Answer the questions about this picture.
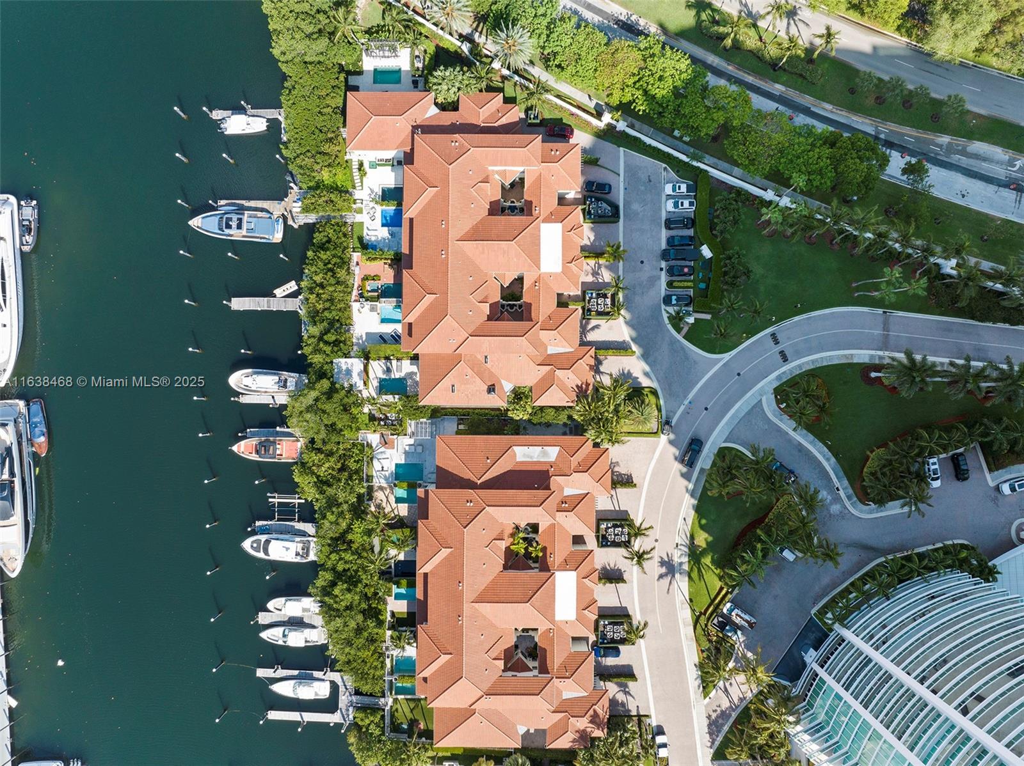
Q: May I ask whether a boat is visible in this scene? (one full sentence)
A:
Yes, a boat appears in the view.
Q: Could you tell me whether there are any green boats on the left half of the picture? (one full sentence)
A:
No, no green boat is visible on the left half of the picture.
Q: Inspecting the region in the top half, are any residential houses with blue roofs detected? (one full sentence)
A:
No, no residential house with a blue roof appears in the top half.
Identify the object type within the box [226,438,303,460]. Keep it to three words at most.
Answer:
boat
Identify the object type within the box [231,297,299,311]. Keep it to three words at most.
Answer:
pier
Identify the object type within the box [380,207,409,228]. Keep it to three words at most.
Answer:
swimming pool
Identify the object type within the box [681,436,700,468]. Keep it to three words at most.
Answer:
car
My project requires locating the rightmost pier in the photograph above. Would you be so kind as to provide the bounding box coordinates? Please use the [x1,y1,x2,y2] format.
[353,692,386,708]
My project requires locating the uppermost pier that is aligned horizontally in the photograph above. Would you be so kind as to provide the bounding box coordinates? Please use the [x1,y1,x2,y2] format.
[211,109,283,136]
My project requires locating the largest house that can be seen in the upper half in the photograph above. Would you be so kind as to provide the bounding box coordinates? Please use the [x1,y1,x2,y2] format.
[402,134,584,354]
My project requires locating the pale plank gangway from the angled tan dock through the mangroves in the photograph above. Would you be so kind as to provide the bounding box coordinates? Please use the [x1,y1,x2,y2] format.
[293,198,356,225]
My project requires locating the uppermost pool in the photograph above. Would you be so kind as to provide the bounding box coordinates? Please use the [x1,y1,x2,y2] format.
[371,66,403,85]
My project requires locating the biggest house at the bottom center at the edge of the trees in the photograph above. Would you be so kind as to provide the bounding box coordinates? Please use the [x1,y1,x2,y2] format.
[417,483,598,712]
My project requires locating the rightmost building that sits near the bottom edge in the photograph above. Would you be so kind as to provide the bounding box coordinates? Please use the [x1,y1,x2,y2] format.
[782,574,1024,766]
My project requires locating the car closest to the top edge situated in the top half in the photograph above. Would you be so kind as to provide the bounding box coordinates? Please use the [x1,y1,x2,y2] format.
[546,125,574,140]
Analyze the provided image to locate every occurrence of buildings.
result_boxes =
[417,483,598,712]
[402,134,584,354]
[782,574,1024,766]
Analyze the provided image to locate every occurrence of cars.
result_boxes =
[666,234,693,248]
[664,216,693,230]
[654,734,668,766]
[996,478,1024,495]
[593,645,619,659]
[546,125,574,140]
[666,264,693,278]
[922,456,941,487]
[660,247,698,262]
[666,197,695,212]
[721,601,757,631]
[663,293,691,306]
[681,436,700,468]
[664,181,696,196]
[949,452,969,480]
[707,616,739,643]
[584,179,612,194]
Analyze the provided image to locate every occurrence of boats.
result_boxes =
[226,438,303,460]
[0,192,26,380]
[29,398,50,456]
[217,110,271,133]
[266,597,329,616]
[21,195,40,252]
[258,626,328,646]
[227,368,308,395]
[240,535,323,562]
[272,283,299,298]
[268,679,332,699]
[186,207,286,240]
[0,399,37,578]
